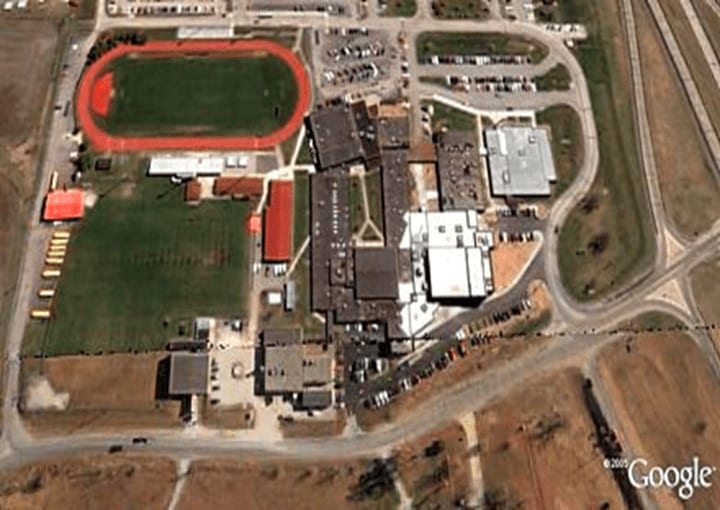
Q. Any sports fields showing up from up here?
Yes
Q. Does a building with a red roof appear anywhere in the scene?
Yes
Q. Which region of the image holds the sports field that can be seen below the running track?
left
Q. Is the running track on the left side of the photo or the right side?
left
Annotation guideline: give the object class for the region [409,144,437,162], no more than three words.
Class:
building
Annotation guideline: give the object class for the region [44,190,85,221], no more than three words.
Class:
barn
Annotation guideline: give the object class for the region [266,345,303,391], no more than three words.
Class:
building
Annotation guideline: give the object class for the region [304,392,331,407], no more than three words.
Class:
shed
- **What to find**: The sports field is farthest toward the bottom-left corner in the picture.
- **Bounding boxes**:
[24,179,248,357]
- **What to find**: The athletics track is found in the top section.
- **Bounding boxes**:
[77,38,311,152]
